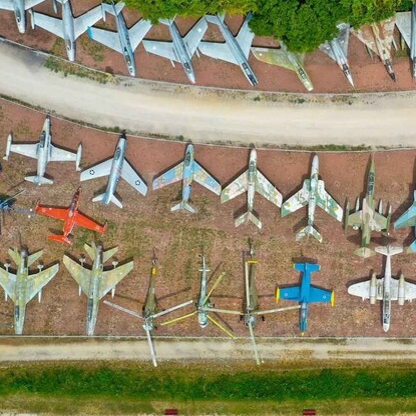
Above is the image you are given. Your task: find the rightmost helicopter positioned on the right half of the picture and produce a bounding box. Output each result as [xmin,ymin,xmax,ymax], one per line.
[205,246,300,363]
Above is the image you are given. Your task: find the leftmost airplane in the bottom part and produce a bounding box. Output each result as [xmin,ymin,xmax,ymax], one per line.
[0,248,60,336]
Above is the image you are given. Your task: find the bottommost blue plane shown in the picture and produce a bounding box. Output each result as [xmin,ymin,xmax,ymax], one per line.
[276,261,335,335]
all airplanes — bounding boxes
[394,0,416,81]
[313,7,353,84]
[78,132,145,208]
[30,0,105,62]
[350,5,395,81]
[252,22,312,92]
[64,243,133,336]
[152,142,220,213]
[280,155,341,242]
[0,0,42,33]
[350,247,416,332]
[343,157,390,259]
[197,7,261,86]
[35,187,108,239]
[220,145,281,228]
[144,13,209,84]
[0,248,60,336]
[88,0,153,78]
[5,117,81,186]
[276,261,335,335]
